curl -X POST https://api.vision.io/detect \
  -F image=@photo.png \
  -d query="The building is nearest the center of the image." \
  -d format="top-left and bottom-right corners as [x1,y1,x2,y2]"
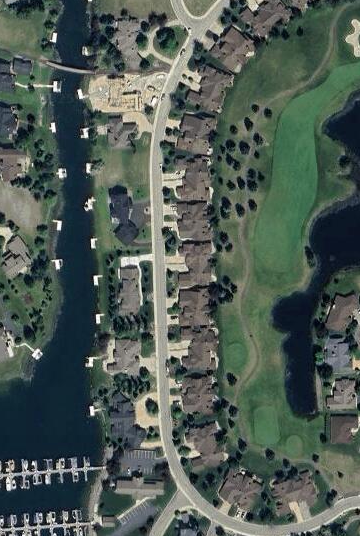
[178,240,214,286]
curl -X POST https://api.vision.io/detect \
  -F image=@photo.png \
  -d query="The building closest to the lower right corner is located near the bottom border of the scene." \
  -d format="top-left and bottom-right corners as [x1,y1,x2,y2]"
[271,470,319,517]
